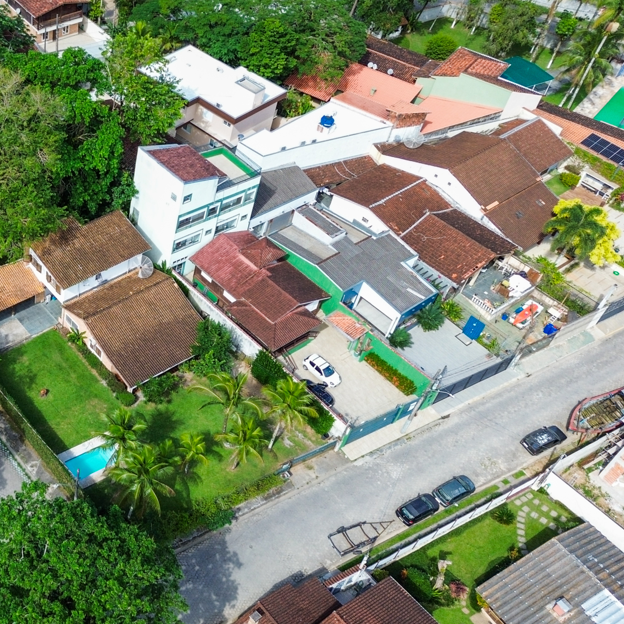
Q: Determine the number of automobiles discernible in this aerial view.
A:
5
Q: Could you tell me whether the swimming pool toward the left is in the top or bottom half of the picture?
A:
bottom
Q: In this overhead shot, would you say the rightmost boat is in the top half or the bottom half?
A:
bottom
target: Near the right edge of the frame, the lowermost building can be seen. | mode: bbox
[469,522,624,624]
